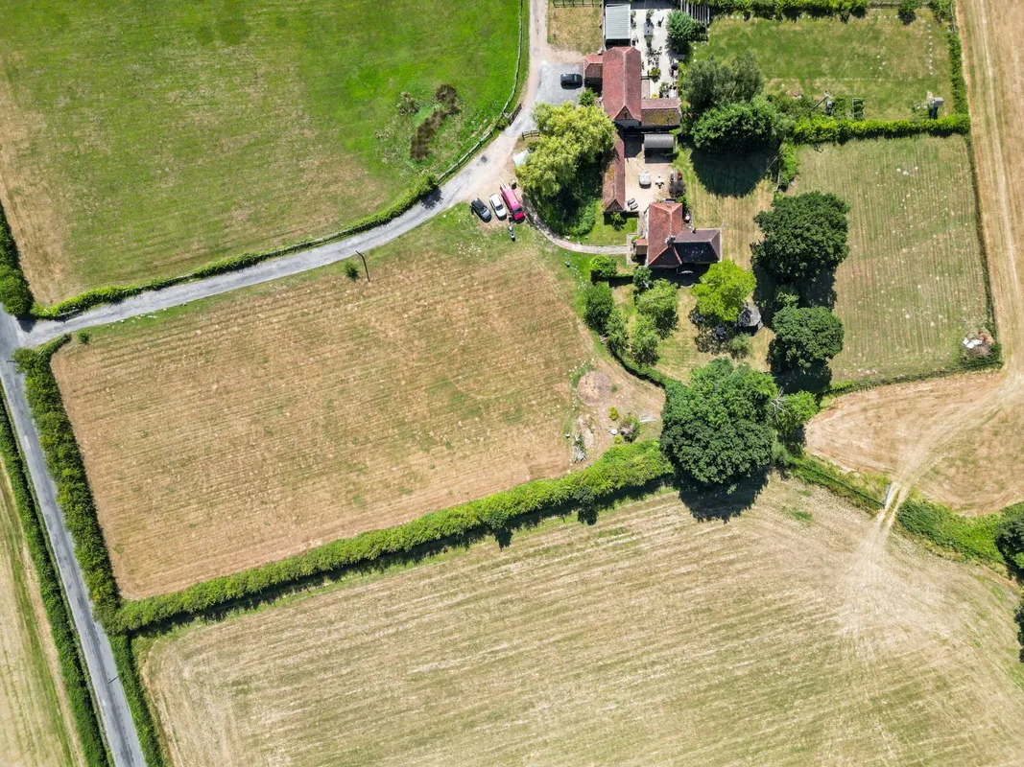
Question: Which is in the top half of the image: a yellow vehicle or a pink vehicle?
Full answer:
What appears in the top half of the image is a pink vehicle.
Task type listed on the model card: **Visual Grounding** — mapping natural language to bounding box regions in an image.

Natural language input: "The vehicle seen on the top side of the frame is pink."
[501,186,523,221]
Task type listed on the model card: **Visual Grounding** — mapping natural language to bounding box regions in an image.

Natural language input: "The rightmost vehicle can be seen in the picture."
[560,73,583,87]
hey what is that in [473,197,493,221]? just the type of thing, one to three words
car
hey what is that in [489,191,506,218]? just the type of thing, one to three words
car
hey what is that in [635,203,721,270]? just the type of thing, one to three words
house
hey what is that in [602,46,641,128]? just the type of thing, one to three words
barn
